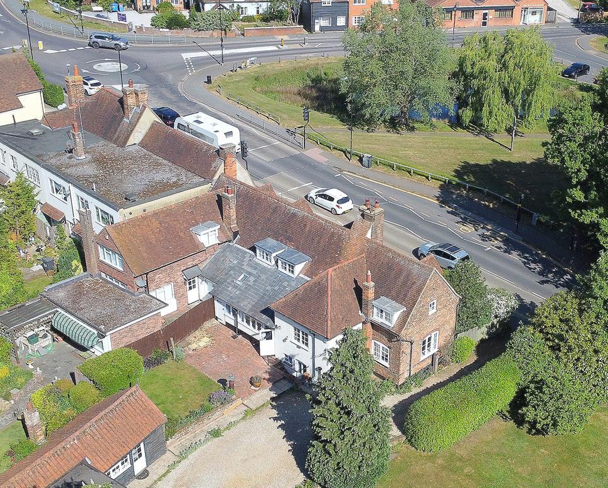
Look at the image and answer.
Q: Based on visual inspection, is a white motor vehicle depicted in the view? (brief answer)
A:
Yes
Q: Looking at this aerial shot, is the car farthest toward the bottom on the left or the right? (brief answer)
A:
right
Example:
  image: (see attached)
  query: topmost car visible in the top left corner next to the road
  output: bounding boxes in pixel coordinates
[87,29,132,49]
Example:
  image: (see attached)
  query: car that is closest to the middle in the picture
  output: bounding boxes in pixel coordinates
[303,188,358,214]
